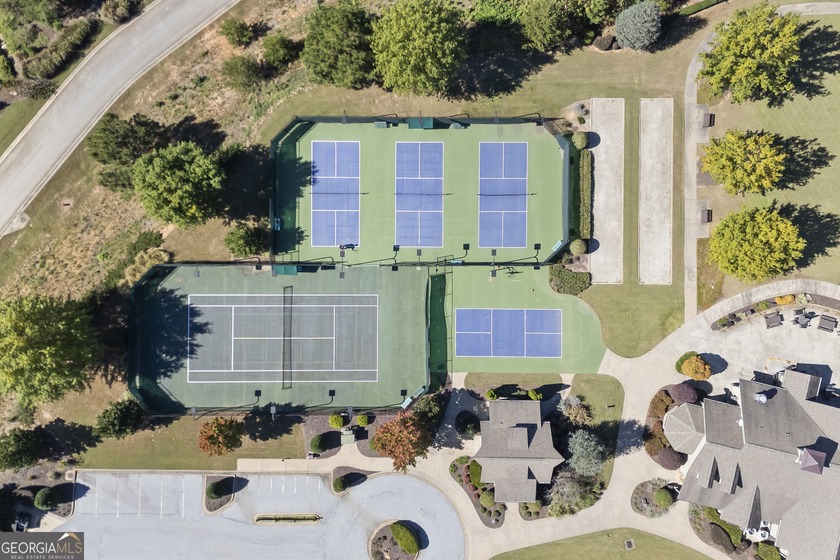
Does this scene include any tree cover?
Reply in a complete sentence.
Yes, the picture does contain tree cover.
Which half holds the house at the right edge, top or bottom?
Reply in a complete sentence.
Seen from above, the house at the right edge lies in the bottom half of the view.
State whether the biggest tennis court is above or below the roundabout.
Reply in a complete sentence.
The biggest tennis court is located above the roundabout in this view.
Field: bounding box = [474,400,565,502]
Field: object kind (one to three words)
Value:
building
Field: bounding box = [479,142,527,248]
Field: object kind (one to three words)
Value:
sports court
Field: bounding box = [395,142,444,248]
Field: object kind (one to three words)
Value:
sports court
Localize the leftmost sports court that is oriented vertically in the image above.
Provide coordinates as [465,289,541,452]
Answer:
[312,141,360,247]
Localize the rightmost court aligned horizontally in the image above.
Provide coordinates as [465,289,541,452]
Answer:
[456,308,562,357]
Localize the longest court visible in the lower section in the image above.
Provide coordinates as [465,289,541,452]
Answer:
[139,265,428,411]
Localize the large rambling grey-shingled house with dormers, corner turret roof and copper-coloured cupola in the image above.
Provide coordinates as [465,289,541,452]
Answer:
[662,369,840,560]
